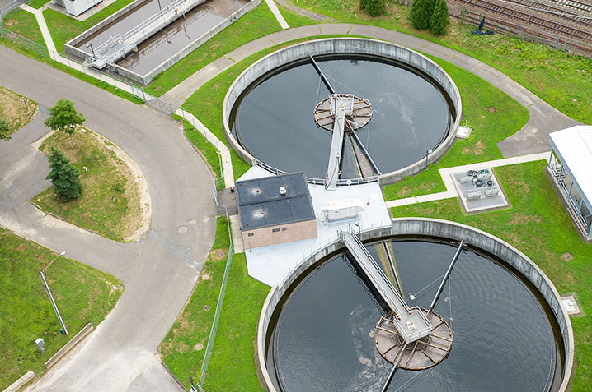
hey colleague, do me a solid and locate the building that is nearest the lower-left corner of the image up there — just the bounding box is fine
[241,171,324,250]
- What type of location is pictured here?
industrial area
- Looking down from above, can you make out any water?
Yes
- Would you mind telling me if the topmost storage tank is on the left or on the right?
left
